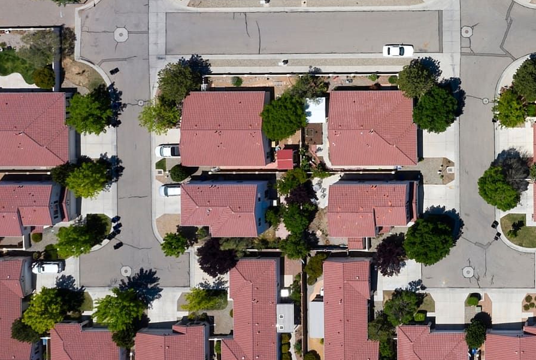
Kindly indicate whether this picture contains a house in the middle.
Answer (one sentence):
Yes, there is a house in the middle.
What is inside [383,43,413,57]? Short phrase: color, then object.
white car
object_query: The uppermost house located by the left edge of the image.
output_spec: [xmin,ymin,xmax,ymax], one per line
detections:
[0,92,76,167]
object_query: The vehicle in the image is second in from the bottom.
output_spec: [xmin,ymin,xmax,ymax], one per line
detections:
[157,184,180,198]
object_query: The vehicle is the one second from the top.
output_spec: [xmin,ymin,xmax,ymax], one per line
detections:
[153,144,181,159]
